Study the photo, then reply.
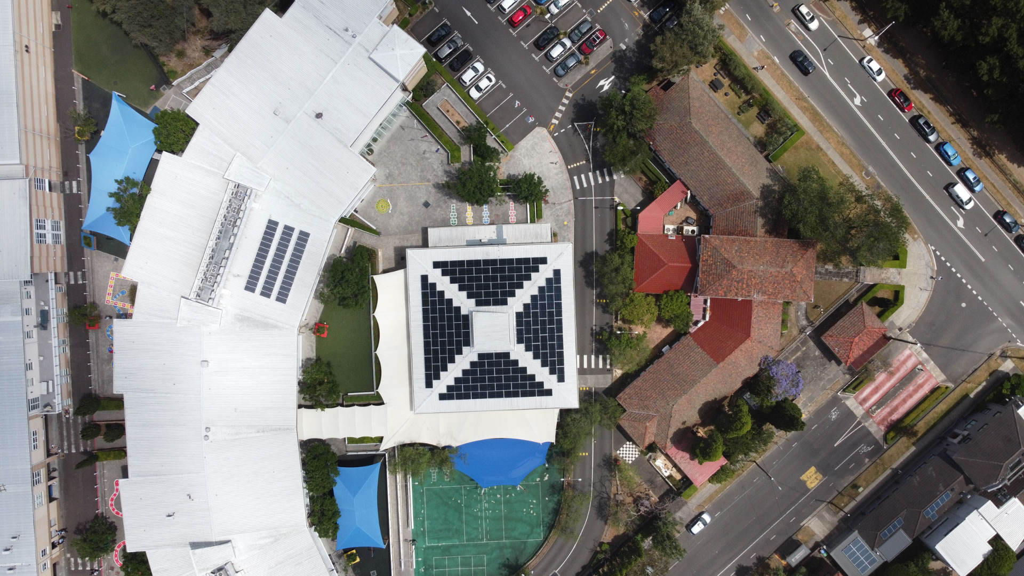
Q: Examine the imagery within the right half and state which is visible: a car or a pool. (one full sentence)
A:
The feature located within the right half is a car.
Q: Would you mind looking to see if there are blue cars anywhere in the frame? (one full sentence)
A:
Yes, the photo shows a blue car.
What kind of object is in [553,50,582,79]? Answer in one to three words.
car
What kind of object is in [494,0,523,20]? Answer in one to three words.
car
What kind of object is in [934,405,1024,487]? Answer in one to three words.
house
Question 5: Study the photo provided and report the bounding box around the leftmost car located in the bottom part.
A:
[685,509,712,536]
